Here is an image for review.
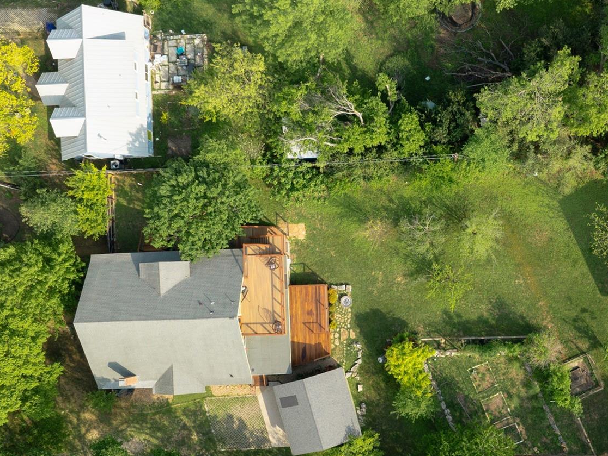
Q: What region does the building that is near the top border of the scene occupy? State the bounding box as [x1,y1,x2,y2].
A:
[36,0,161,163]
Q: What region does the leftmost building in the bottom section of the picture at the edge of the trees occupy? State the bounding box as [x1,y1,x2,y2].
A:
[74,225,296,395]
